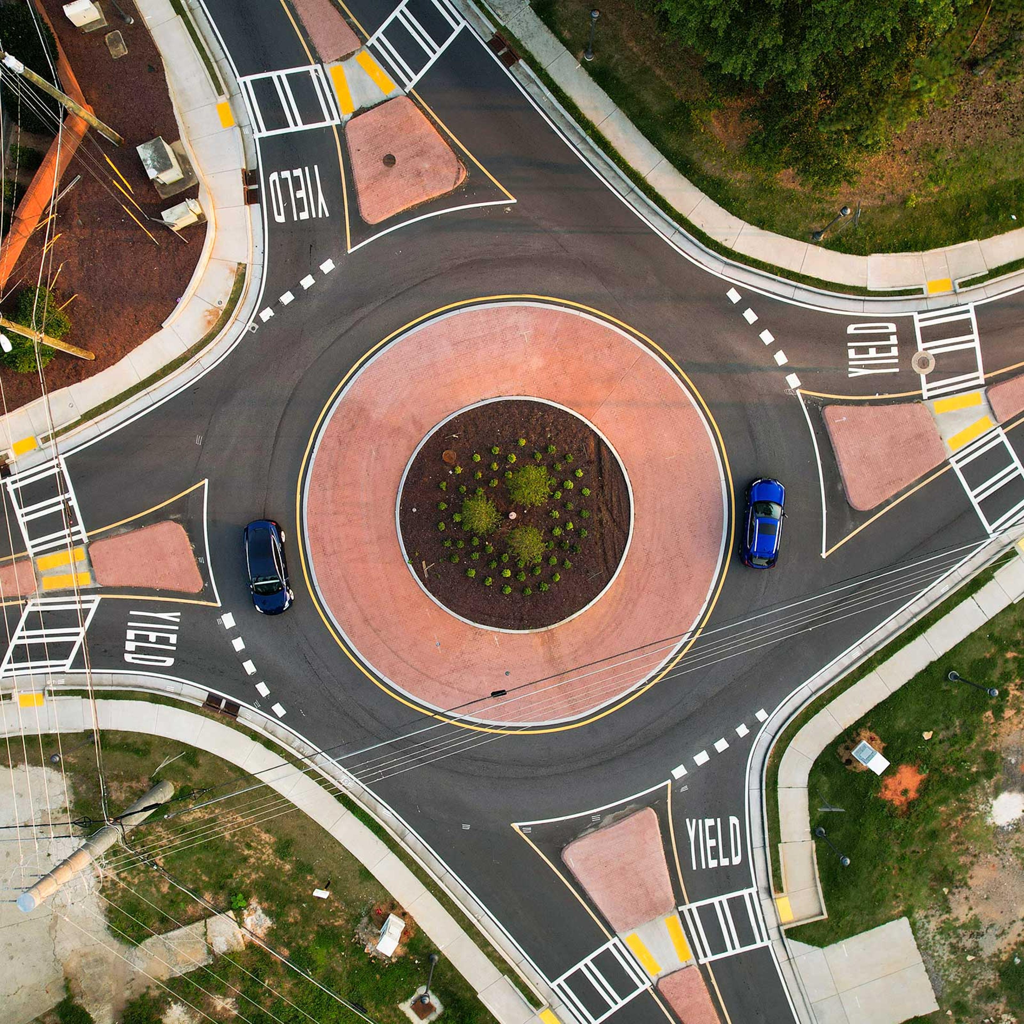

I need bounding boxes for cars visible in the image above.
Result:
[739,478,790,569]
[244,520,293,615]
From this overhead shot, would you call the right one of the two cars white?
No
